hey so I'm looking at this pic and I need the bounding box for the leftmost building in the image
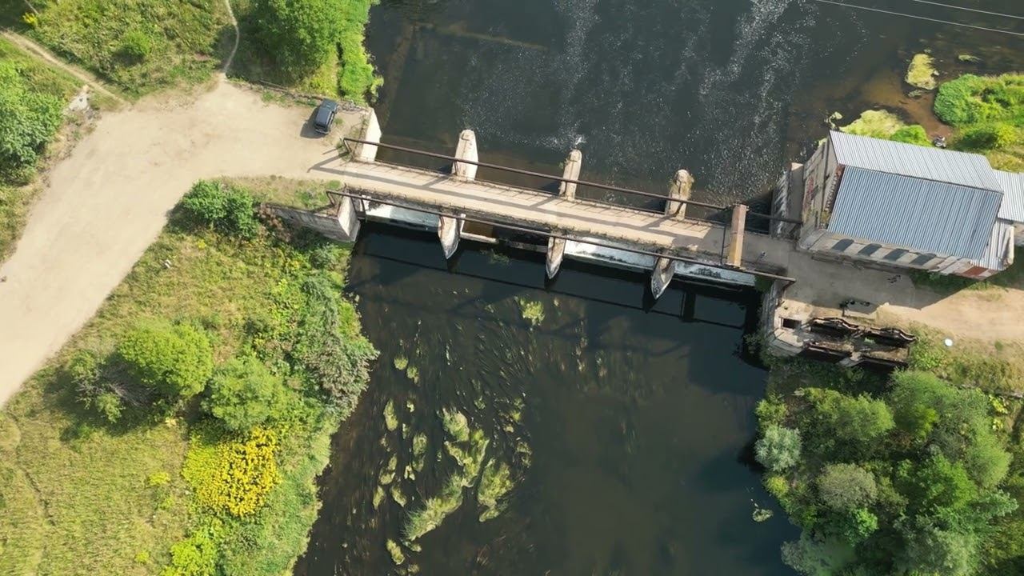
[803,130,1003,284]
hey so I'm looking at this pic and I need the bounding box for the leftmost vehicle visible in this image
[313,99,336,132]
